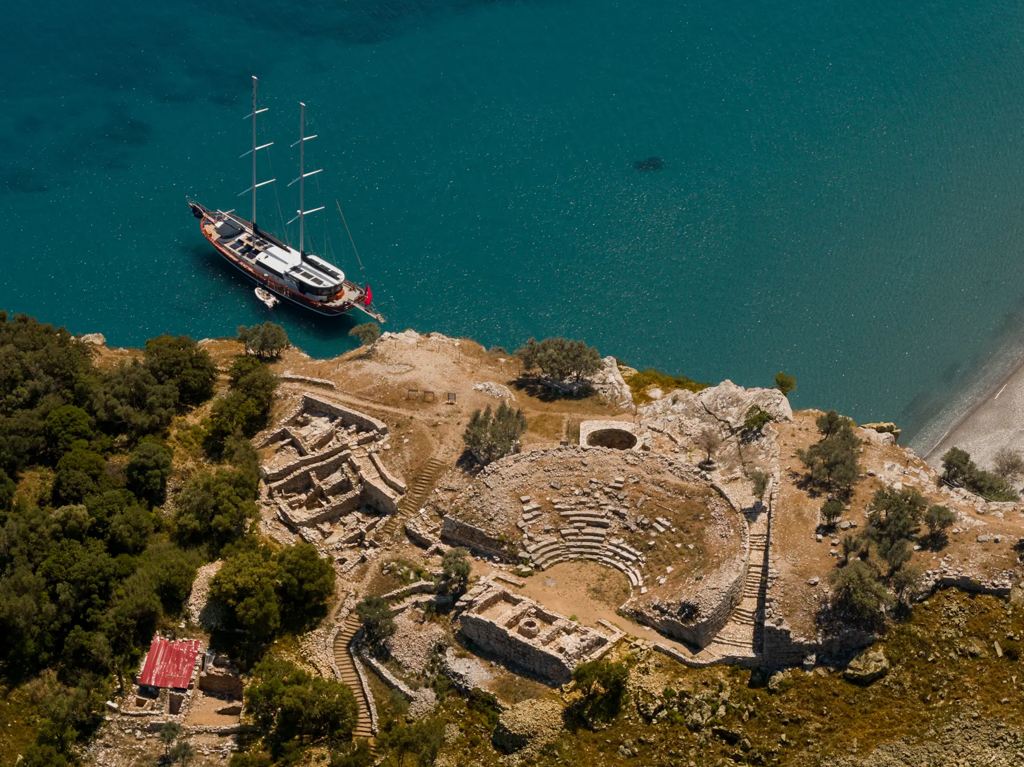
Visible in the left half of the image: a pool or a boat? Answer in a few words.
boat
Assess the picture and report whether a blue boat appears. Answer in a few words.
No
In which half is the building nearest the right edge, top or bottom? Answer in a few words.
bottom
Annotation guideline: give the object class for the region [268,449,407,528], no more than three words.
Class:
house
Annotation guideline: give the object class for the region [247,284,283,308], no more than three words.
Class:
boat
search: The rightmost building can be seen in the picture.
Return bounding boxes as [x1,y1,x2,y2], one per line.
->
[454,571,629,683]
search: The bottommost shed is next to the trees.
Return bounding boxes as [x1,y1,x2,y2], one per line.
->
[138,632,204,708]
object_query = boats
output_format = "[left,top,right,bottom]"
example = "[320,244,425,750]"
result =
[186,75,388,327]
[247,284,283,308]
